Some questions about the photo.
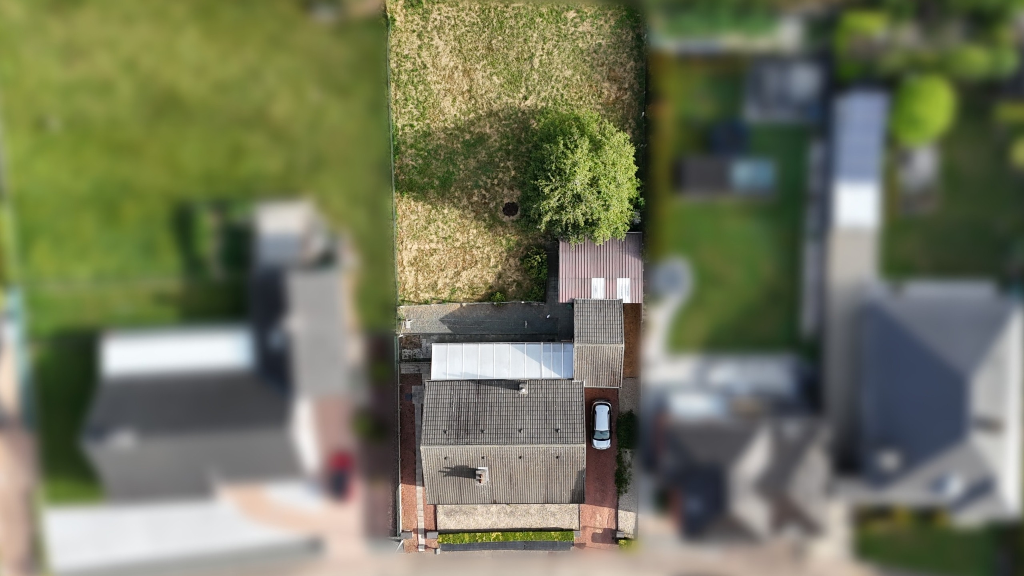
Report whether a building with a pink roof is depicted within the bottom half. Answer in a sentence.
No, the scene shows no building with a pink roof within the bottom half.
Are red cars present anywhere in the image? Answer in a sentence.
Yes, a red car is visible in the scene.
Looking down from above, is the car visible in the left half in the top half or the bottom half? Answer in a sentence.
The car visible in the left half sits in the bottom half of the picture.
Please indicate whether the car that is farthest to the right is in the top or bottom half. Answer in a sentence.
It is in the bottom half that the car that is farthest to the right appears.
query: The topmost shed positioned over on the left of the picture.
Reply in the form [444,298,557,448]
[255,203,322,266]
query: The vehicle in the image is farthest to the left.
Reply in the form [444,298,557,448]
[330,451,355,502]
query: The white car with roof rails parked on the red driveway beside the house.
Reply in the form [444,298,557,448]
[590,398,614,448]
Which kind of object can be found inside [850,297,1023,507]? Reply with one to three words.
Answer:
house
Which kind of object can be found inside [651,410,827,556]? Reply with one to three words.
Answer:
house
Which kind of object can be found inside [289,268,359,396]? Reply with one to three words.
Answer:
building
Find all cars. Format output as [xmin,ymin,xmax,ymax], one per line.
[330,451,355,502]
[590,398,614,448]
